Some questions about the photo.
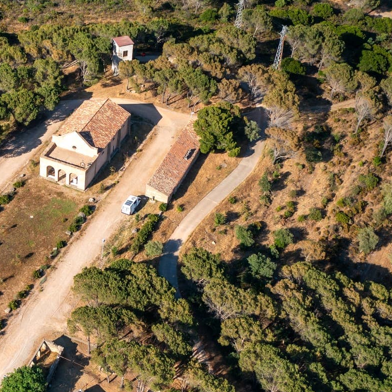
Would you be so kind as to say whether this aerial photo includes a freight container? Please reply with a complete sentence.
No, the picture doesn't show any freight container.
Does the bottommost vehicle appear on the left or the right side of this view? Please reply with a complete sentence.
It is on the left.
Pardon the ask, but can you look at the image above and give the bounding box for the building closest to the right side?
[146,119,204,203]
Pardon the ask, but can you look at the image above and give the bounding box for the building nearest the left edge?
[27,339,65,383]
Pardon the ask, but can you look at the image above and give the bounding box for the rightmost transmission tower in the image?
[271,26,289,69]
